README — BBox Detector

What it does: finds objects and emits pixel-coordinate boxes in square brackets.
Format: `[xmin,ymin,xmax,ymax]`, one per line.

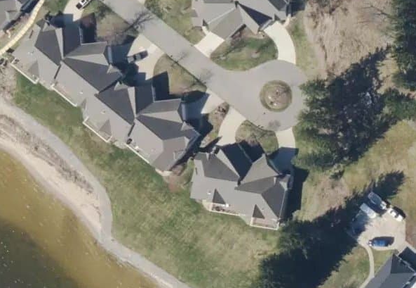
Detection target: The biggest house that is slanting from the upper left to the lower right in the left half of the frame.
[11,20,196,173]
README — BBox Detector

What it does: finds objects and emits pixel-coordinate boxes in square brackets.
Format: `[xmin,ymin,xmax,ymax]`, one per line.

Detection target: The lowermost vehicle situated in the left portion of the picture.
[127,49,147,63]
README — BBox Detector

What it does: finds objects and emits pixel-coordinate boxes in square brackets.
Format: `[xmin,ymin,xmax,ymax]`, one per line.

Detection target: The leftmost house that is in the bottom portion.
[188,143,290,230]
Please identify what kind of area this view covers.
residential area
